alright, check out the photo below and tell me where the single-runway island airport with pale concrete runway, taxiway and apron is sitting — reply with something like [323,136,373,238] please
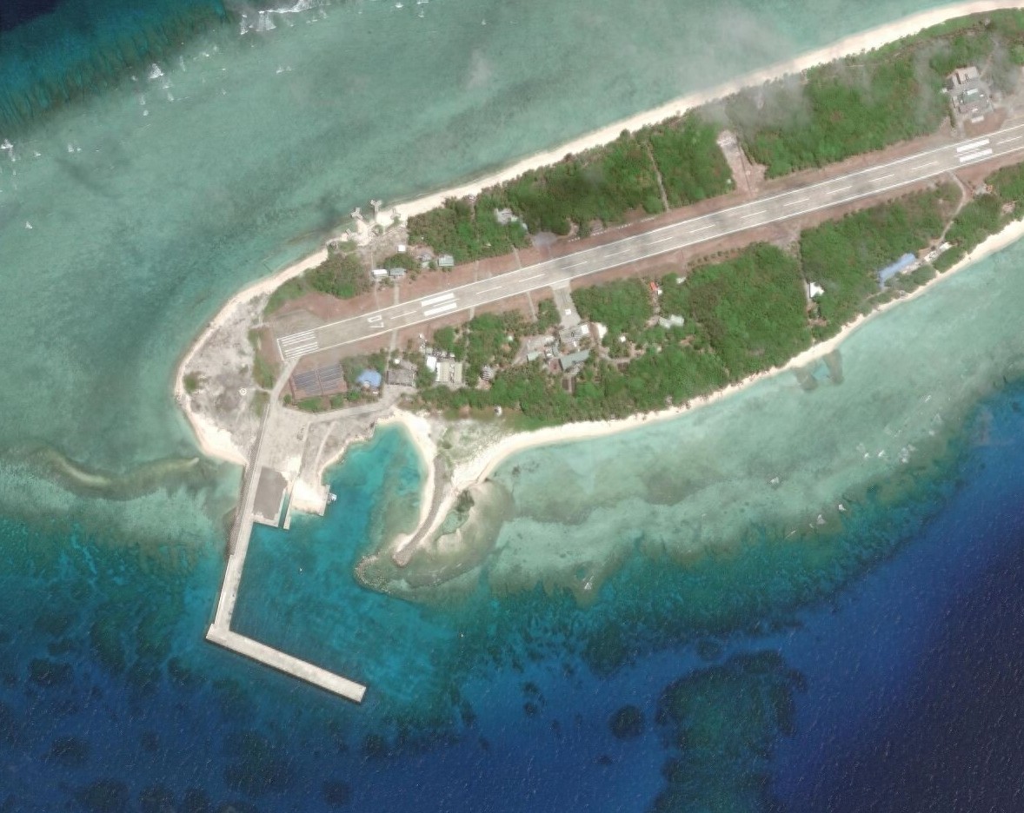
[265,123,1024,361]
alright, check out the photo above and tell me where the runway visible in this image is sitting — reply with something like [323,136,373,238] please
[276,123,1024,361]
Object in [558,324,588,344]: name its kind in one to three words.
building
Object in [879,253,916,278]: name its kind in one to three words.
building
